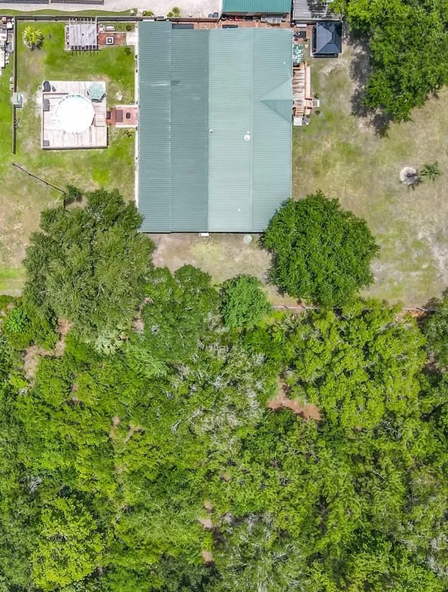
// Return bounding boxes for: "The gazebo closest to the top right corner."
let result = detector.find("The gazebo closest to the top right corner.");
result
[310,22,342,58]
